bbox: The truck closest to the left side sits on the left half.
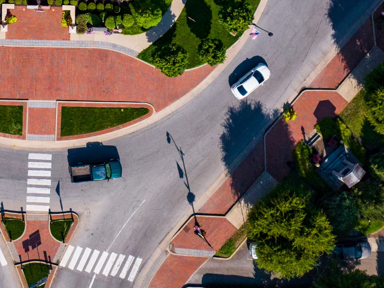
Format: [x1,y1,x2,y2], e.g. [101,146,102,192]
[70,160,121,183]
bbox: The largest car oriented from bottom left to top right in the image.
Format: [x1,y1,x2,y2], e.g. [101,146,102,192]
[233,63,272,102]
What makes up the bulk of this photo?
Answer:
paved ground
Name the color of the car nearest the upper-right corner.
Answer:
white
